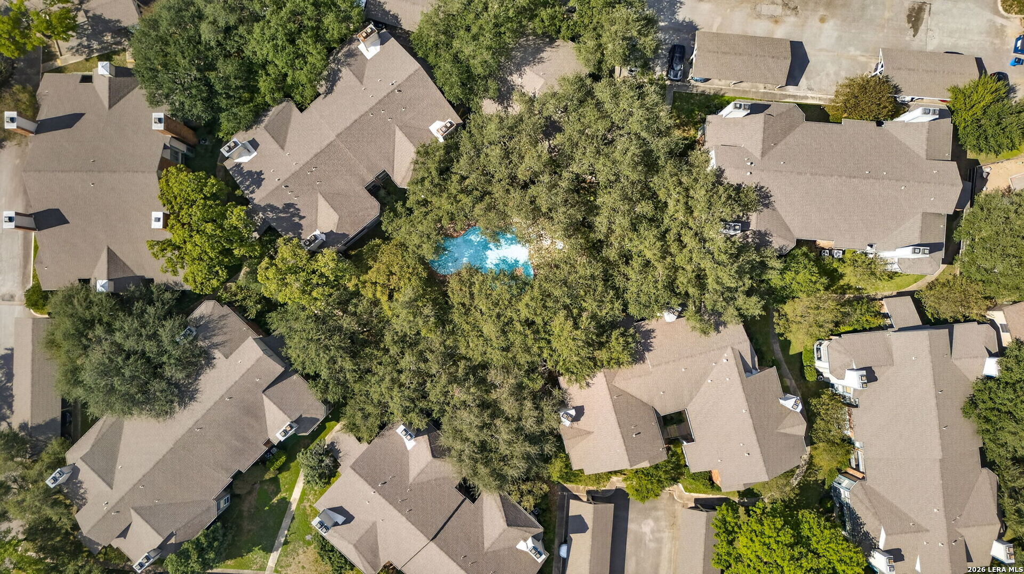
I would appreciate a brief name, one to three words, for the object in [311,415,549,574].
house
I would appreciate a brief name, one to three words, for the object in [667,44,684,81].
car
